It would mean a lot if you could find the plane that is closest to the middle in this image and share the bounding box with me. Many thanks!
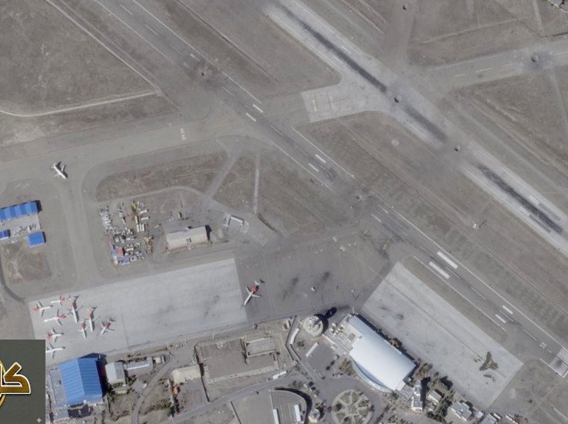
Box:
[244,282,260,306]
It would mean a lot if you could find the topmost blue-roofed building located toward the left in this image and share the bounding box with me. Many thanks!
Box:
[0,203,40,222]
